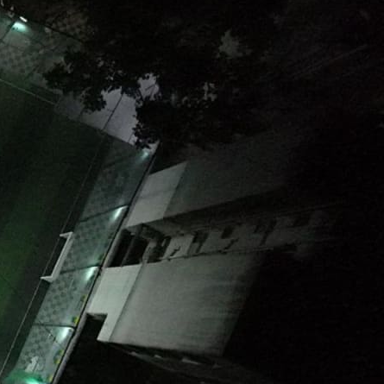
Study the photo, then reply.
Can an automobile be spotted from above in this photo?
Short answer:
No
